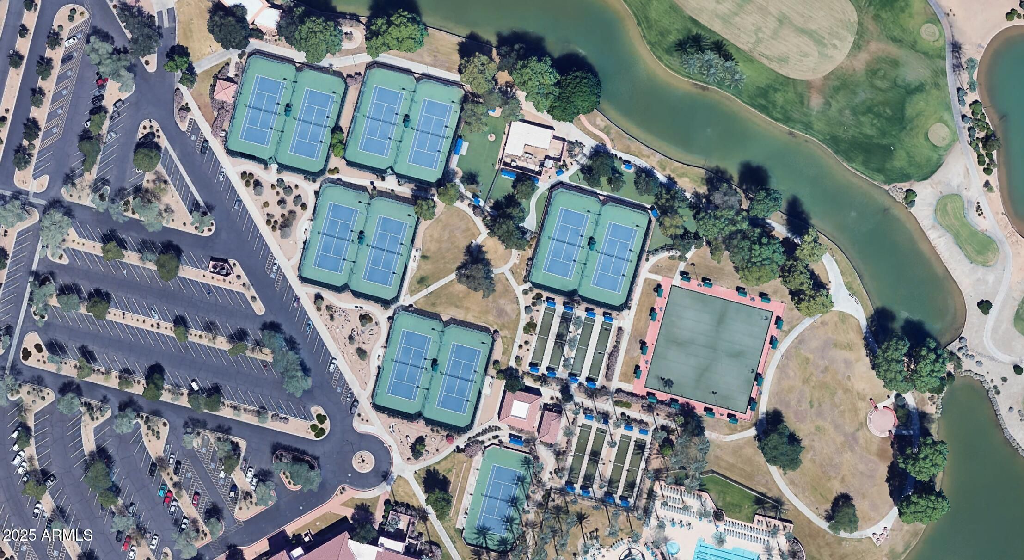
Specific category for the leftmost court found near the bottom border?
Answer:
tennis court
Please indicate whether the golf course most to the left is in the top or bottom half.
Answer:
top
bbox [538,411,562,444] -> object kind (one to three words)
building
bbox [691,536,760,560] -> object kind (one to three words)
swimming pool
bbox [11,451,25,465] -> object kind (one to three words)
car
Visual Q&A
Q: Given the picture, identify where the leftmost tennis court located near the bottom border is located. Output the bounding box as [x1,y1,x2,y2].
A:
[463,447,535,553]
